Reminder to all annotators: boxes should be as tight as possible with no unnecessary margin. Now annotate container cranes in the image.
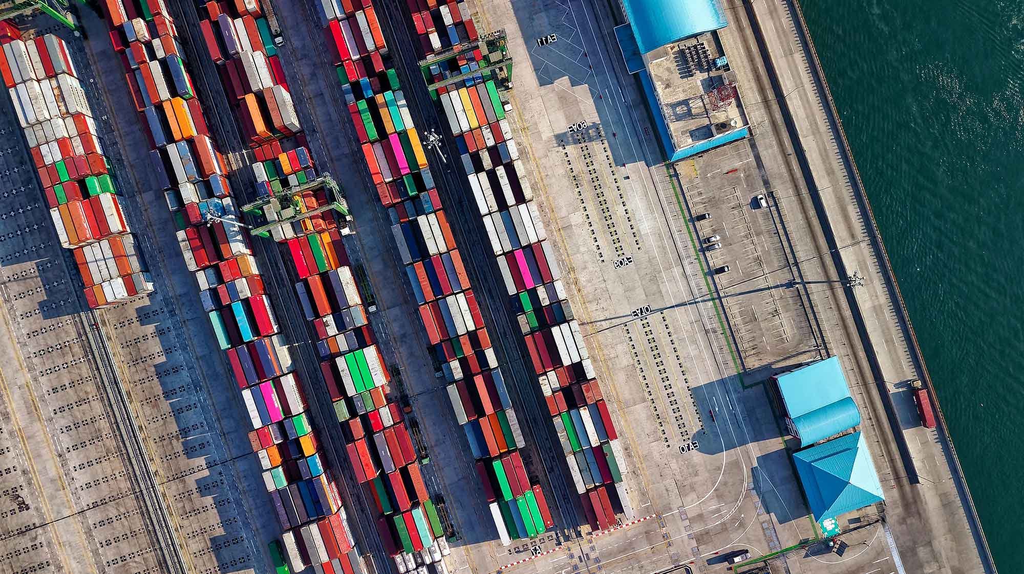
[414,25,517,116]
[0,0,86,40]
[237,175,352,248]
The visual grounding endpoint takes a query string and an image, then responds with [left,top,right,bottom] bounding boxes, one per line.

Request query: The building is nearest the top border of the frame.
[613,0,751,167]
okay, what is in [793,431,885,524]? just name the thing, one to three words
building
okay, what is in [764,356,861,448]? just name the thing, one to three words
building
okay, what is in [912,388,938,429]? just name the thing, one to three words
shipping container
